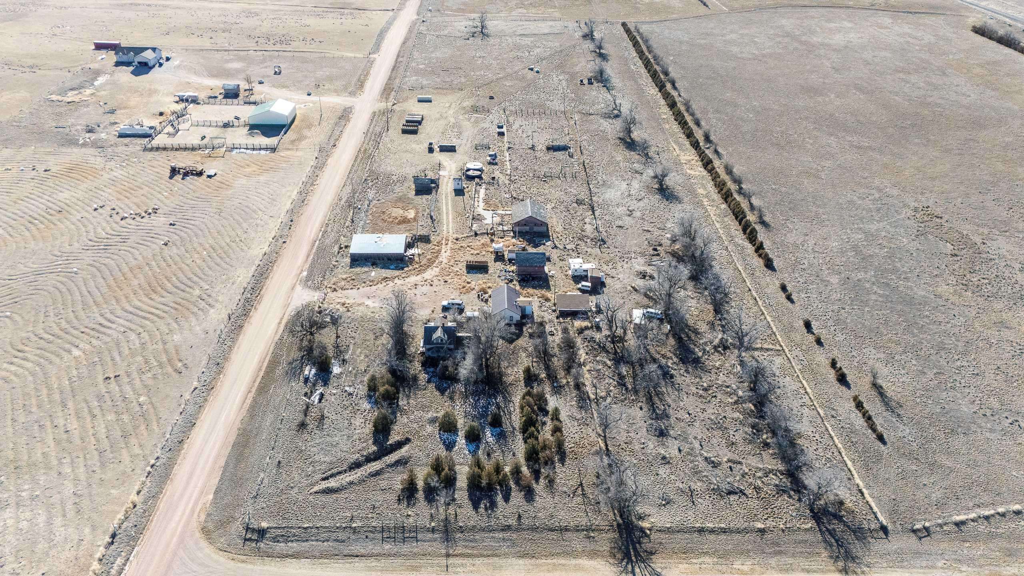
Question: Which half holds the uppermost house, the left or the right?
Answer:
left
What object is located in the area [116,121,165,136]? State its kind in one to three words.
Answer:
building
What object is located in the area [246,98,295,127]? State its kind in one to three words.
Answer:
barn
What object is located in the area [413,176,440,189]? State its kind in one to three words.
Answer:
shed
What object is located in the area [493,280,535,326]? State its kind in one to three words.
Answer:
house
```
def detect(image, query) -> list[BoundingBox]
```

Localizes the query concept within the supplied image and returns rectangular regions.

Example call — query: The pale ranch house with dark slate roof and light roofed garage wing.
[114,44,163,66]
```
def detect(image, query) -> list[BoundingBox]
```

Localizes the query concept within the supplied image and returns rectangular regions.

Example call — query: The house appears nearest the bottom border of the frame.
[421,315,474,354]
